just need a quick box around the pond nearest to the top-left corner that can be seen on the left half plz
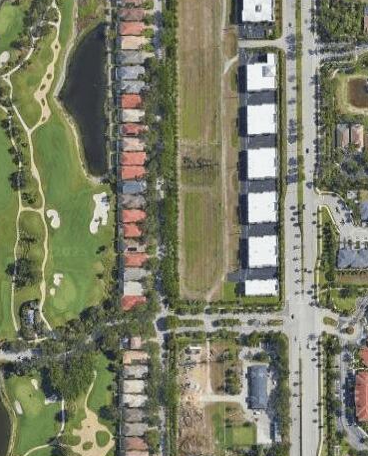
[61,23,106,178]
